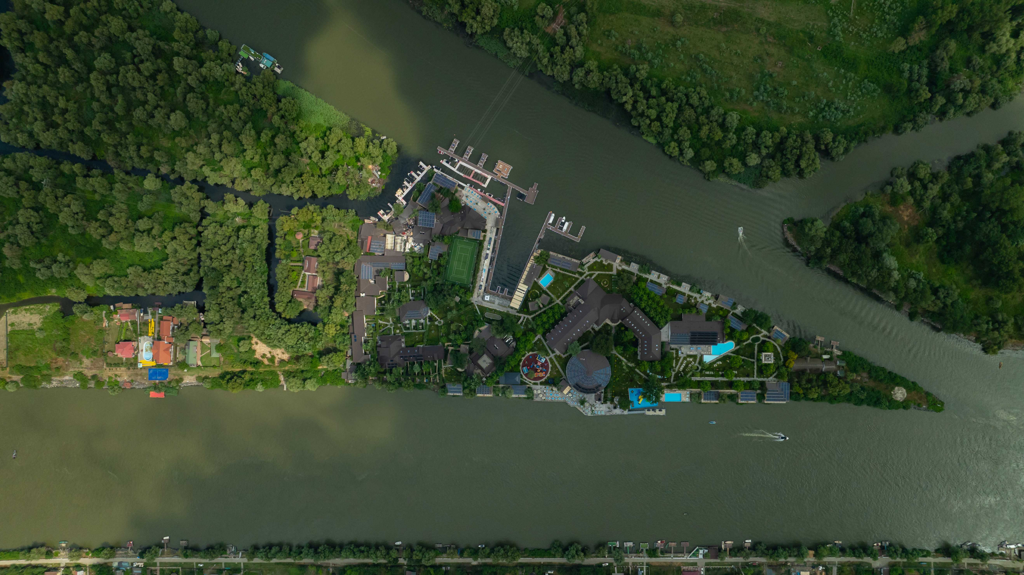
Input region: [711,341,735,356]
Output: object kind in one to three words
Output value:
swimming pool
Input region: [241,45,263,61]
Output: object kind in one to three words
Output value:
ship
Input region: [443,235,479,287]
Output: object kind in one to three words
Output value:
tennis court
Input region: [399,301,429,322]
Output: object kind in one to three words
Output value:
house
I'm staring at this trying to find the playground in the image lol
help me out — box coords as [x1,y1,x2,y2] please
[522,353,550,381]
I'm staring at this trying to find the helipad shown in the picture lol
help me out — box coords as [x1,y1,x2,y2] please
[893,387,908,402]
